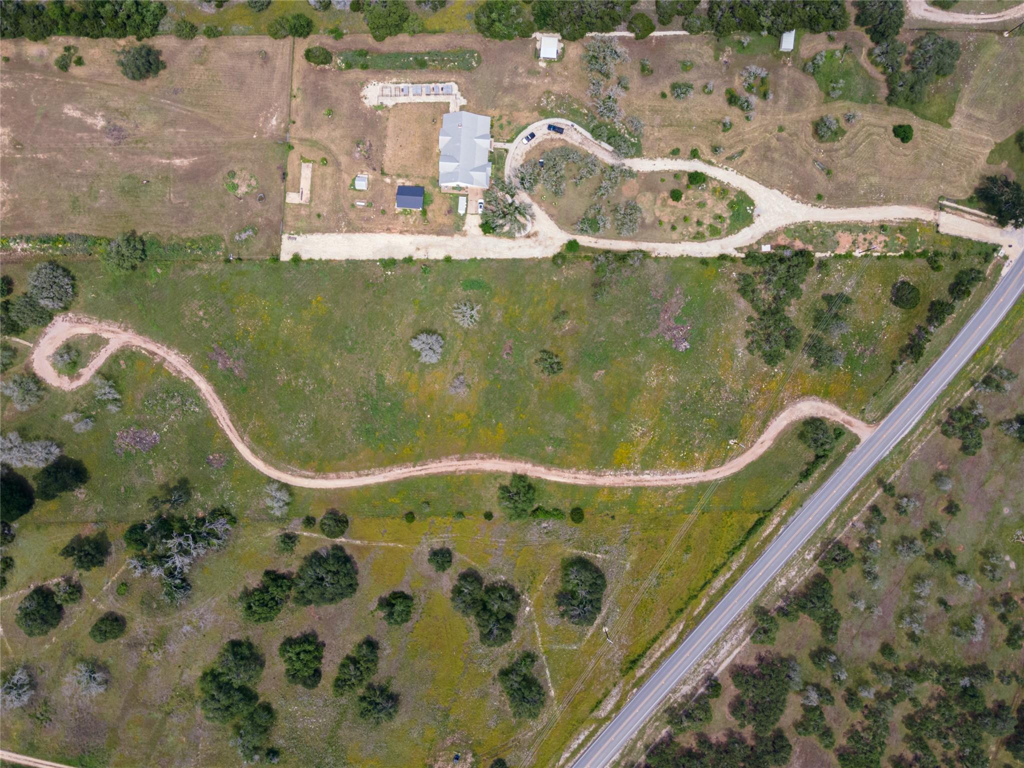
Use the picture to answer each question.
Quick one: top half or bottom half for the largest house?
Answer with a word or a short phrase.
top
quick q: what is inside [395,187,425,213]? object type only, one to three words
shed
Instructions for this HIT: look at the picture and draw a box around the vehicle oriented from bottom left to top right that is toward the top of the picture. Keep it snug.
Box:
[521,130,537,145]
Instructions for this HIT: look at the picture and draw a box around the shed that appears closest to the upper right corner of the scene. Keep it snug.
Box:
[777,30,795,55]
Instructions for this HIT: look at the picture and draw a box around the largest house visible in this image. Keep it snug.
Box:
[436,111,494,190]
